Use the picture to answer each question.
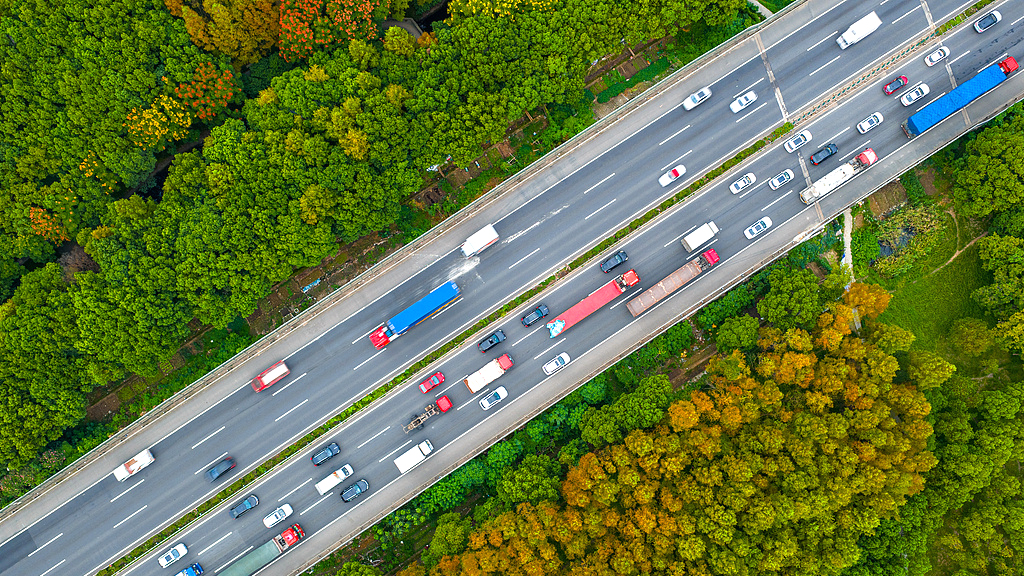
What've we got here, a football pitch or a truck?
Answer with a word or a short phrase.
truck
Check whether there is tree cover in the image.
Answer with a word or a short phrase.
Yes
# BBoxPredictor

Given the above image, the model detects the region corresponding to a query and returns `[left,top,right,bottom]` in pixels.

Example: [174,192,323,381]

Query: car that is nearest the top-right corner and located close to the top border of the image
[972,11,1001,35]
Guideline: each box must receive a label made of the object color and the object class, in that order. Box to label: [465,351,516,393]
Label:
white truck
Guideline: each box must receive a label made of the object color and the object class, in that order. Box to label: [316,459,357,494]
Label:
white truck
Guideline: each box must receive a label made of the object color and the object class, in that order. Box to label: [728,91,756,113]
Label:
white car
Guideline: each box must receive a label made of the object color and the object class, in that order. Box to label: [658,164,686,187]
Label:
white car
